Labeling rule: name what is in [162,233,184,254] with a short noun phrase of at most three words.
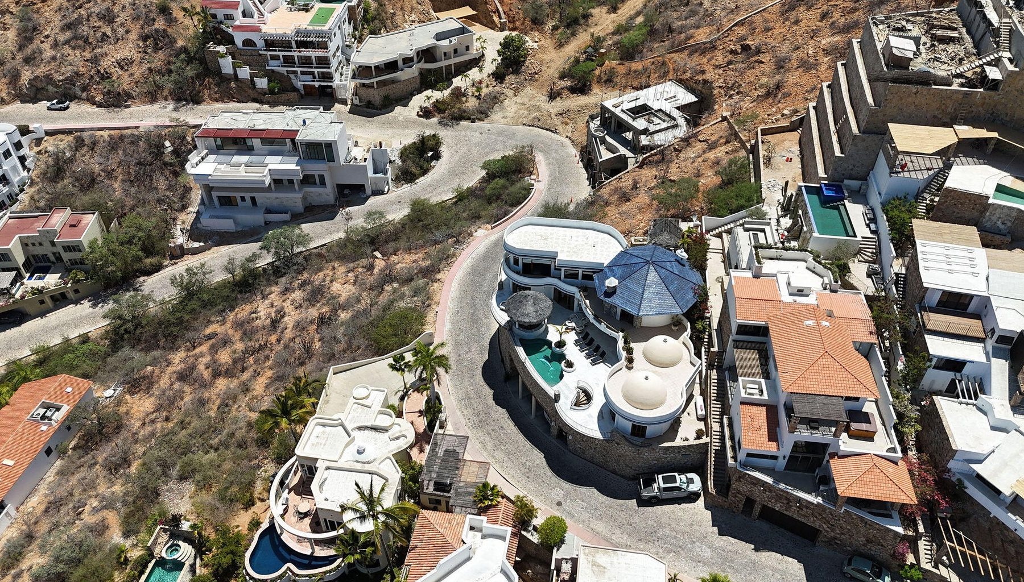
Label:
building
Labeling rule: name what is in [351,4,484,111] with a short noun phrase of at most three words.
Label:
house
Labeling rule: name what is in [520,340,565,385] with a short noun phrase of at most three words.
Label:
swimming pool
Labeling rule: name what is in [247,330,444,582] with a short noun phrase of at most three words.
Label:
house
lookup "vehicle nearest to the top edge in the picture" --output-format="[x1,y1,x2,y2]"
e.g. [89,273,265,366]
[42,98,71,111]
